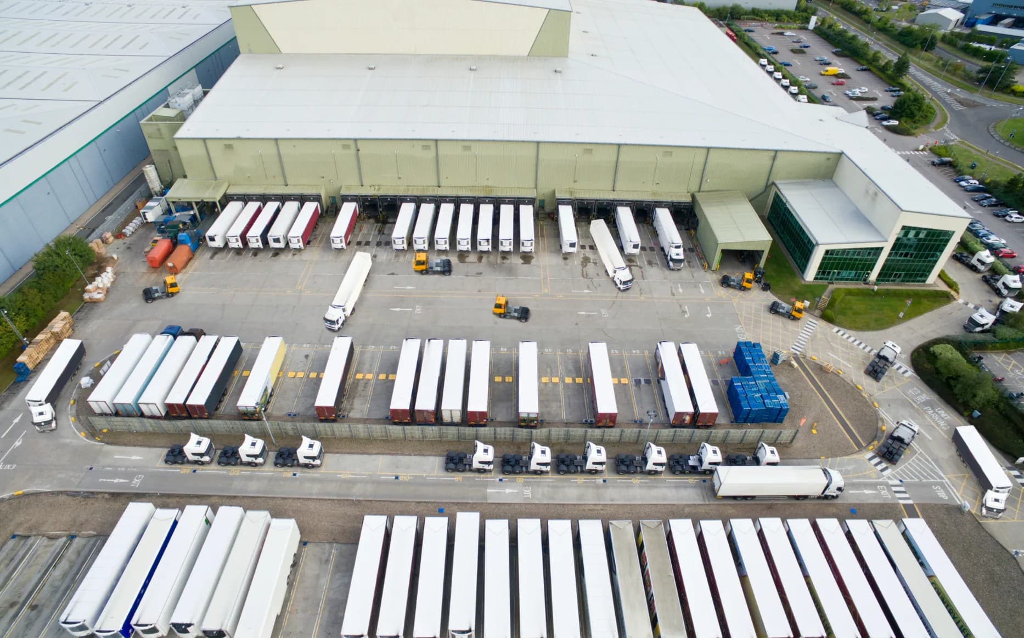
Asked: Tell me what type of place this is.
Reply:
industrial area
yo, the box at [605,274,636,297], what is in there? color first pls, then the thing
white truck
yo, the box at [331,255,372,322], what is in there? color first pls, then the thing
white trailer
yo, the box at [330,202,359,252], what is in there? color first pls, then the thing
white trailer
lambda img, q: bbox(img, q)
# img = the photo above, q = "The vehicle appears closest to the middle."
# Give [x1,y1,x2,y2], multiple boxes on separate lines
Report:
[493,294,534,322]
